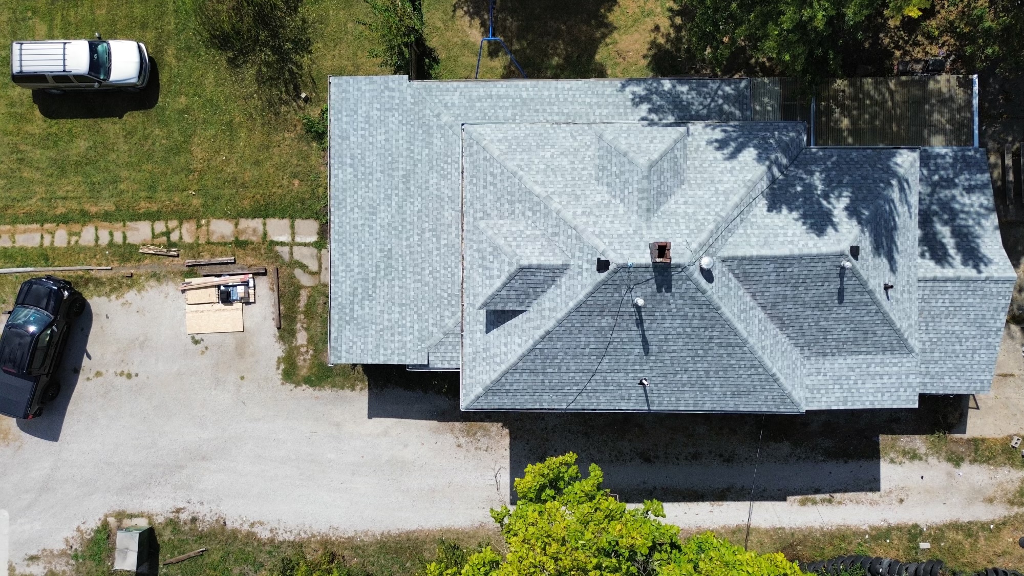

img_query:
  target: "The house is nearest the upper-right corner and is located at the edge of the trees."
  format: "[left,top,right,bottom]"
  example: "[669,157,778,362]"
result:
[325,74,1018,415]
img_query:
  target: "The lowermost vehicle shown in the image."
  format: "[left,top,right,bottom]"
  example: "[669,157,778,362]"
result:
[0,275,82,422]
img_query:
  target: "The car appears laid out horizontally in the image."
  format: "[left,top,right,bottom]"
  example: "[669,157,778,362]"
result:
[9,30,152,92]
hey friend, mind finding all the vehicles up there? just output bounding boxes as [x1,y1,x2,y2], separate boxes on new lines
[0,275,82,422]
[9,30,152,92]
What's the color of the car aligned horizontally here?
white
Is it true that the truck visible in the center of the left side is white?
No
